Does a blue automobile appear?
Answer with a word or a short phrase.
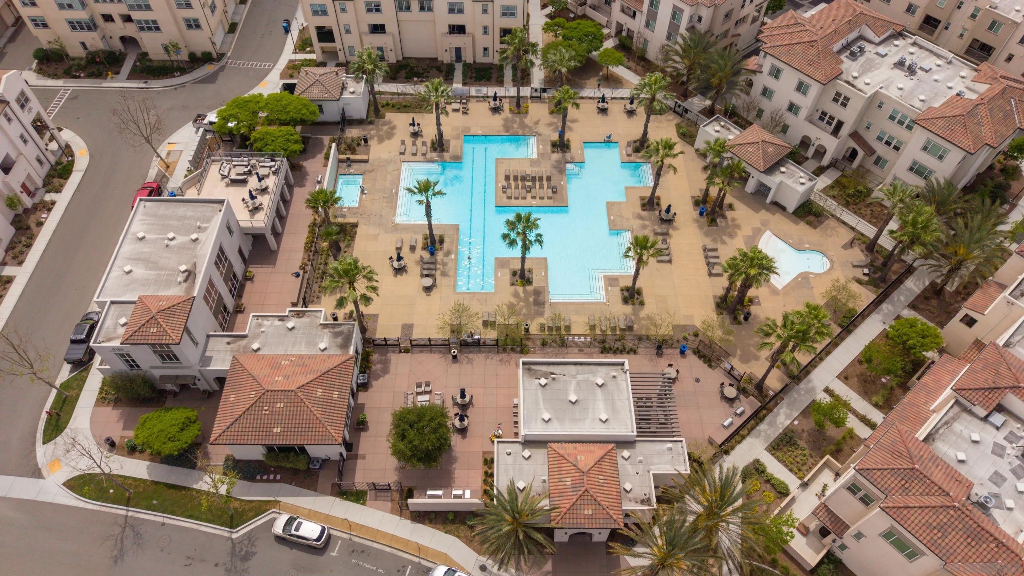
No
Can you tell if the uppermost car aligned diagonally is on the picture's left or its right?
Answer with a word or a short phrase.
left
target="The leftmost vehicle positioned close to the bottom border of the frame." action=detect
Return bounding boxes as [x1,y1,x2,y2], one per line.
[269,516,329,552]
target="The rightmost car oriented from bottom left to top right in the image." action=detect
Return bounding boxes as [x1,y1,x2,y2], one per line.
[125,180,155,212]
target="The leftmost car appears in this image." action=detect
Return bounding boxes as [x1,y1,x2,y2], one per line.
[57,313,98,366]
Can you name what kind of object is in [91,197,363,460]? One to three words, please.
building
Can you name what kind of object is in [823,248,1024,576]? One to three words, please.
building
